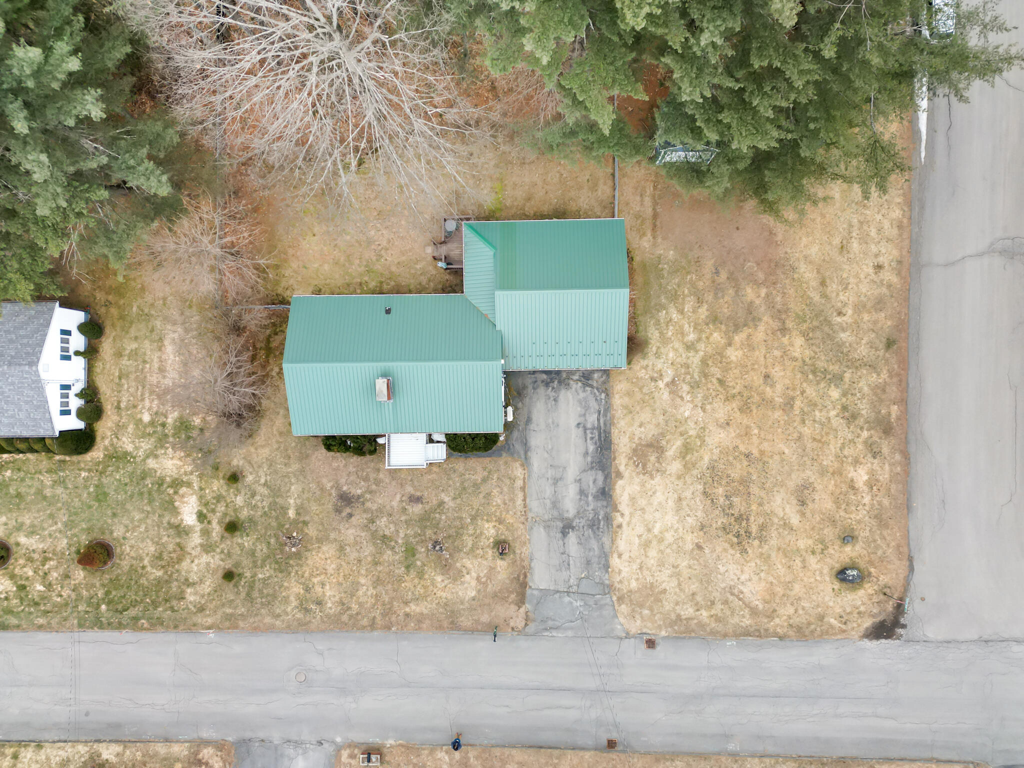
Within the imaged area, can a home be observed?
Yes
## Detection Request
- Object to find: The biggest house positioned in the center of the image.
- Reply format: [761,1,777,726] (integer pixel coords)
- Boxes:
[283,216,629,437]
